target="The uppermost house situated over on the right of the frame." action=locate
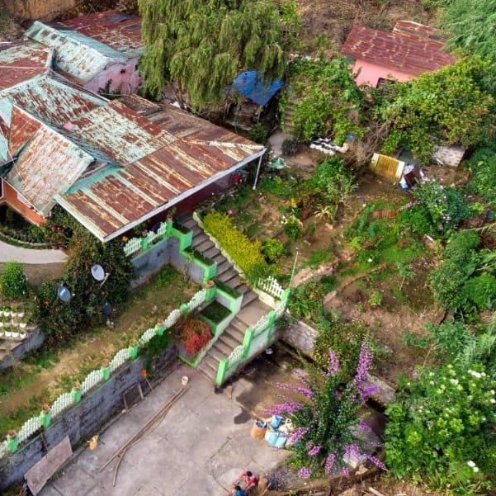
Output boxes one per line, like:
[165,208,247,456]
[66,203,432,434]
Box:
[339,20,451,86]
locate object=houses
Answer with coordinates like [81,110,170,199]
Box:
[0,46,266,258]
[339,20,451,86]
